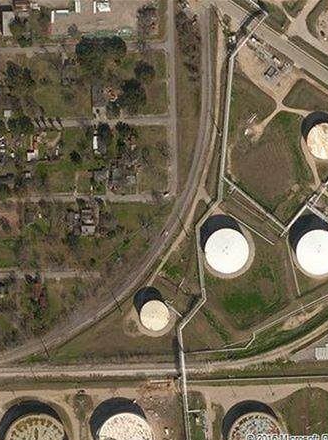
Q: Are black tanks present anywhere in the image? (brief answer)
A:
No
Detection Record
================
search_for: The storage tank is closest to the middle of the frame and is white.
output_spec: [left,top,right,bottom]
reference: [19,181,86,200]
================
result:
[205,228,251,275]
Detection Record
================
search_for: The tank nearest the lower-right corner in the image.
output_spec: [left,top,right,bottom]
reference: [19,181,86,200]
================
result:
[227,411,286,440]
